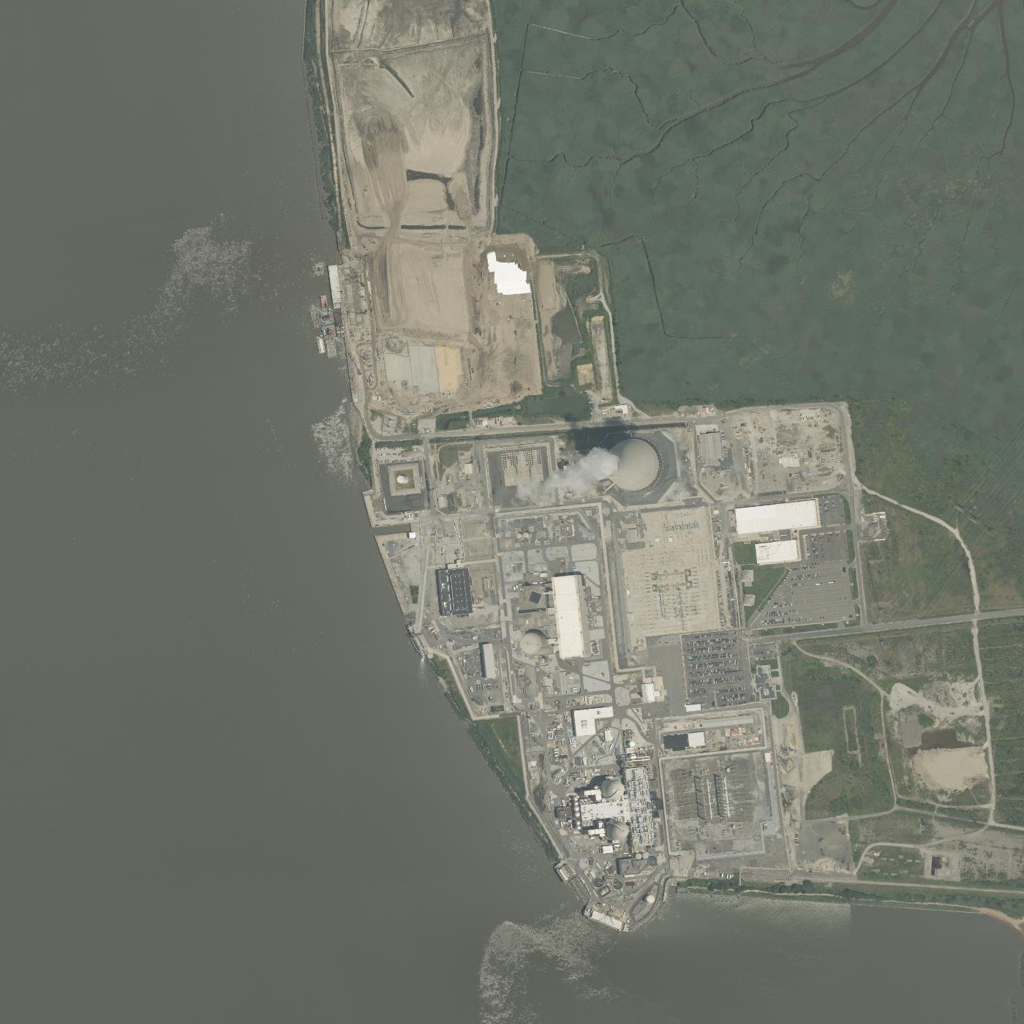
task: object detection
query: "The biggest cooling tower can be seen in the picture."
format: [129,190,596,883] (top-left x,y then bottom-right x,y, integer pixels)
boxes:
[593,436,664,492]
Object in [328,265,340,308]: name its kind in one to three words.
ship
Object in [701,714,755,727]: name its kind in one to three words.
shed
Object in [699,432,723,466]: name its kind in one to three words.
building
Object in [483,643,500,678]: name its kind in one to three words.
building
